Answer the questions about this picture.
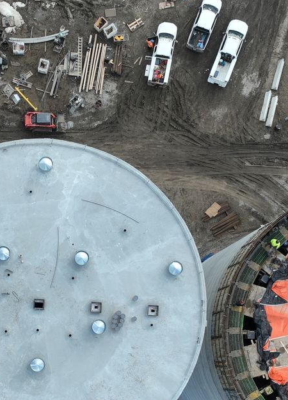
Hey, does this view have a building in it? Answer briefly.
No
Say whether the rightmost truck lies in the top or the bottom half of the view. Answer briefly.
top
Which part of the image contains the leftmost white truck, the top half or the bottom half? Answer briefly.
top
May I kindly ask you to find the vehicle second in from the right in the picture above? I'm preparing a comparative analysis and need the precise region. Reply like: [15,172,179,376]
[185,0,222,57]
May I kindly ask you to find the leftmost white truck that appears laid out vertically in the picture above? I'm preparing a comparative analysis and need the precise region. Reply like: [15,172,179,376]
[142,20,179,92]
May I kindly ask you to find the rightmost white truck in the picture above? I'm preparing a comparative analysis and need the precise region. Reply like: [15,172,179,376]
[206,18,248,95]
